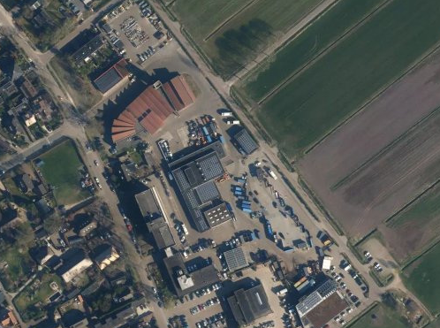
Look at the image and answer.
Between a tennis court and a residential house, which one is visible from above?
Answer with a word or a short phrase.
residential house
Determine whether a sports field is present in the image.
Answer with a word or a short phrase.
Yes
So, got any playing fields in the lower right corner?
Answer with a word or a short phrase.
No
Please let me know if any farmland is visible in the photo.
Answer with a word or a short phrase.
Yes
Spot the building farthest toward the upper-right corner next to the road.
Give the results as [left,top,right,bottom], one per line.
[233,128,260,157]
